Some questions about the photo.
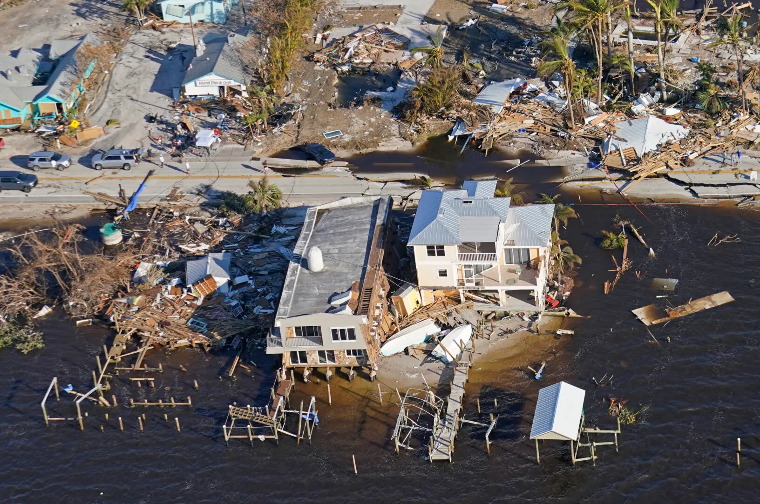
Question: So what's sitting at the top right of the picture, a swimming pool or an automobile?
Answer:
swimming pool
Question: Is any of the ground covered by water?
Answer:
Yes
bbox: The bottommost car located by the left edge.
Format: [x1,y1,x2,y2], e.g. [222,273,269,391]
[0,169,41,192]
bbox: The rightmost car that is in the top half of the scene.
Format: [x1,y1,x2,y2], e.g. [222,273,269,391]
[298,136,338,163]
